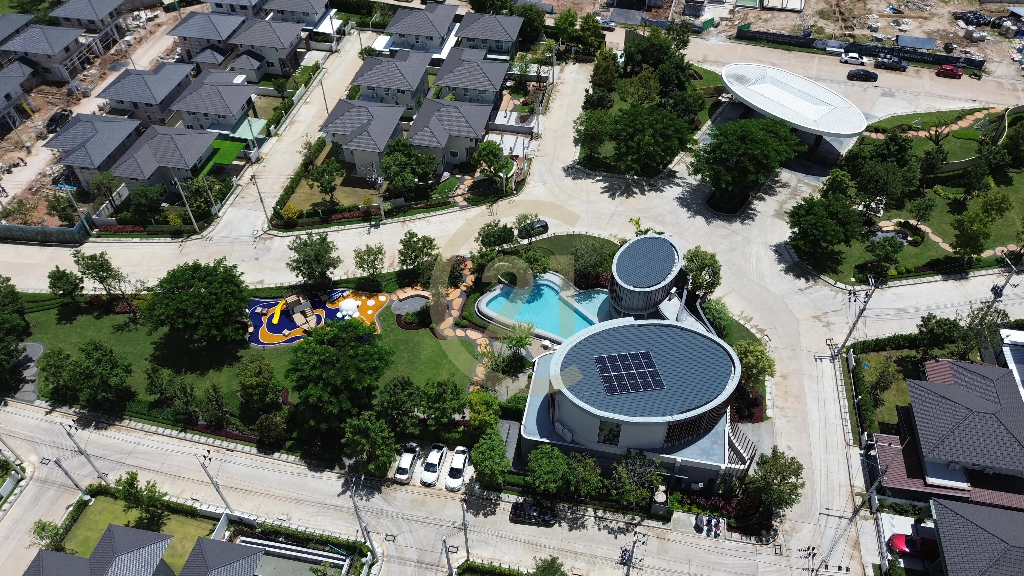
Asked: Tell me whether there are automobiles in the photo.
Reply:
Yes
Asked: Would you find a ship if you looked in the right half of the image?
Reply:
No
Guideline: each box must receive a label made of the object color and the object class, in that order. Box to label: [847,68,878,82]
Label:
black car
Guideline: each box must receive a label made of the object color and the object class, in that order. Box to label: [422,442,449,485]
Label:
white car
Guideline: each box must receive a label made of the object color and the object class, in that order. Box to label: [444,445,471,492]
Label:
white car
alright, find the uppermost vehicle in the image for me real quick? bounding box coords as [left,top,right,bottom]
[595,14,620,29]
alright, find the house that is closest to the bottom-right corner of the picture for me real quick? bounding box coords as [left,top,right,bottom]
[885,497,1024,576]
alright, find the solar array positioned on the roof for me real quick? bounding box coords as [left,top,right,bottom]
[593,351,666,394]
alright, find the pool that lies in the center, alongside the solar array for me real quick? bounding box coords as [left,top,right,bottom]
[474,271,611,351]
